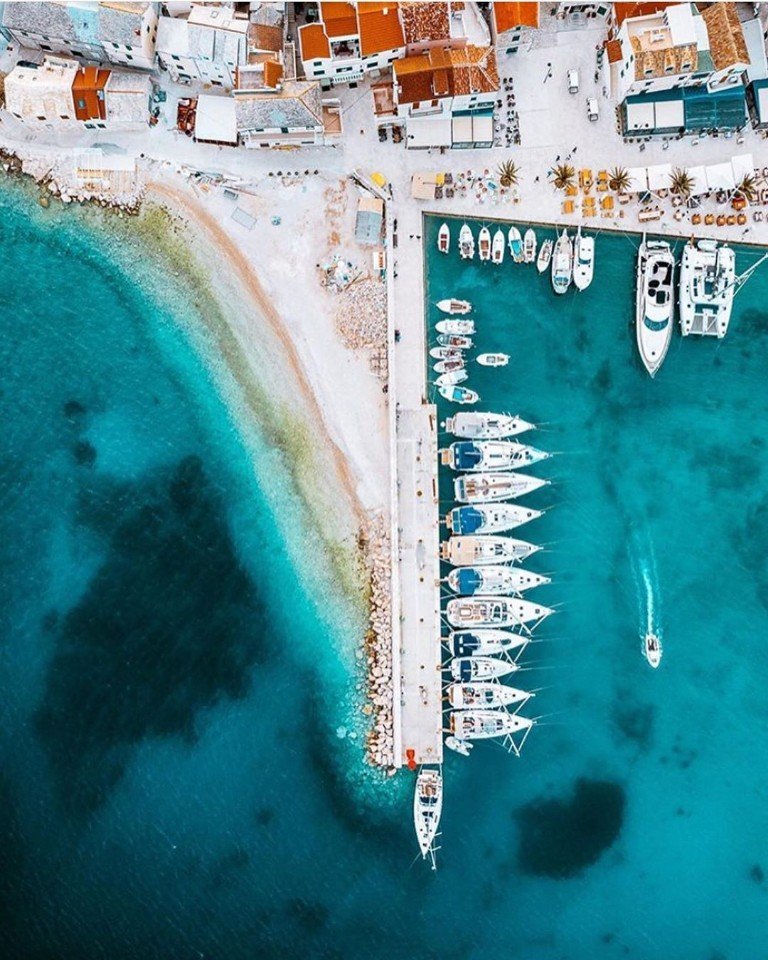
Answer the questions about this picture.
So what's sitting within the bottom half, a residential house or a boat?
boat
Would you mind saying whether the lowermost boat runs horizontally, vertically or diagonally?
vertically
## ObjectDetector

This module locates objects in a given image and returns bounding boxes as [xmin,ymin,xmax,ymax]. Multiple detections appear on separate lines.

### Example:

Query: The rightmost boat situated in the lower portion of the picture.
[645,632,660,668]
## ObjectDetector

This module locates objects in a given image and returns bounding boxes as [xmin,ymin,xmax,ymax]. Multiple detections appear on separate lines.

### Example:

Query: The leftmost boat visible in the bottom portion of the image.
[409,763,446,884]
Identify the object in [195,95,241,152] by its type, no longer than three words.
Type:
building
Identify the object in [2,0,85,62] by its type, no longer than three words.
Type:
house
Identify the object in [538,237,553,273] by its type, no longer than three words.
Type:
boat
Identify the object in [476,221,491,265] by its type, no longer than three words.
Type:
boat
